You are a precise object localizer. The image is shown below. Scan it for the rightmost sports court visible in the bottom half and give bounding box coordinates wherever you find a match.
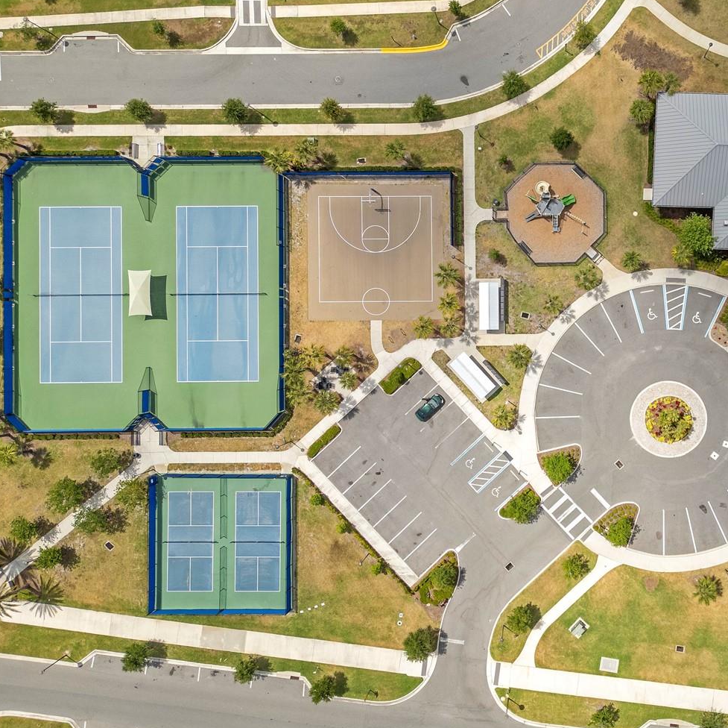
[229,492,285,592]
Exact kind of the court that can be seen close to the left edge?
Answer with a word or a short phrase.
tennis court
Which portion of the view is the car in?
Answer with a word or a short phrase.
center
